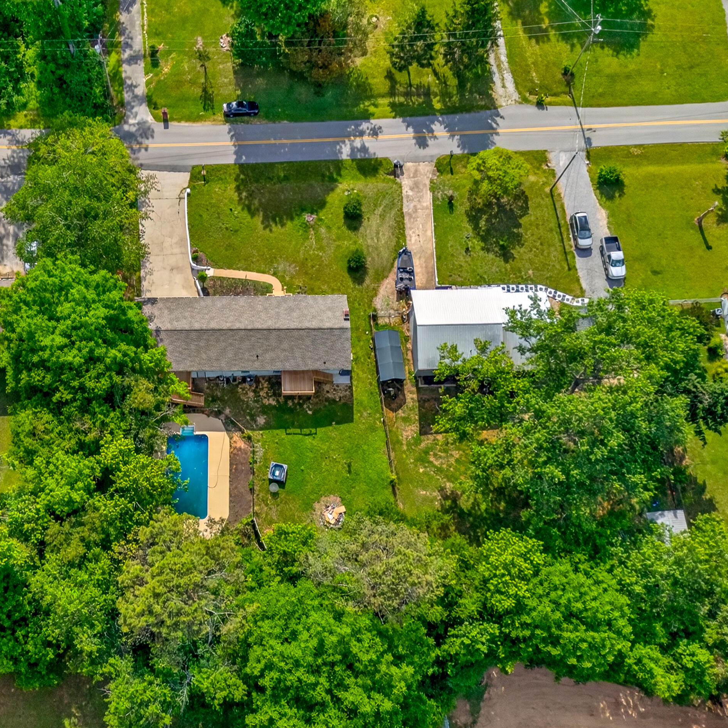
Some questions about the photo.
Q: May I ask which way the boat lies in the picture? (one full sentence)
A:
In this picture, the boat is oriented from top to bottom.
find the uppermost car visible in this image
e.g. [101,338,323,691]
[222,99,260,117]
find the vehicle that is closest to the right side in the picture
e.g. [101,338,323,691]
[597,236,628,281]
